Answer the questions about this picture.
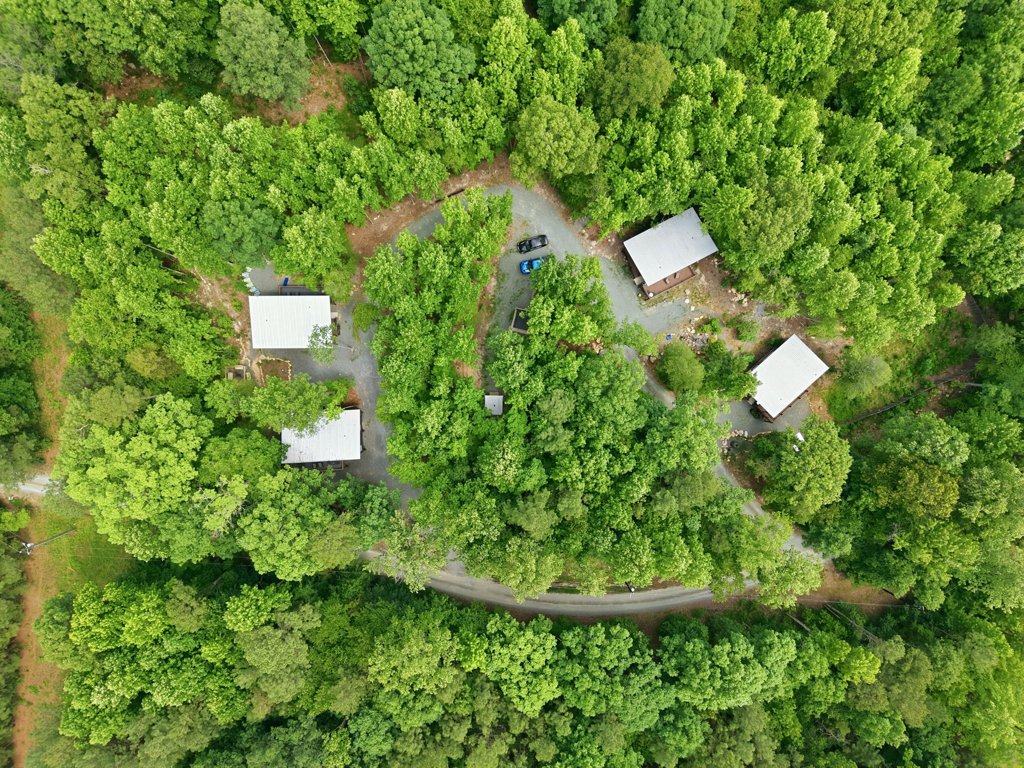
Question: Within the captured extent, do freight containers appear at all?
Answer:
No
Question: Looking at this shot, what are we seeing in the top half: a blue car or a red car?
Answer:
blue car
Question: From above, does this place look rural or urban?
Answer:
rural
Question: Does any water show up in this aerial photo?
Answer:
No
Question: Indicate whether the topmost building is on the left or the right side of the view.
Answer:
right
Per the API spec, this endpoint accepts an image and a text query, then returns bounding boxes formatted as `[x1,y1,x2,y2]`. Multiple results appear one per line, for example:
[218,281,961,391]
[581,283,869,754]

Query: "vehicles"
[516,234,550,255]
[519,255,549,273]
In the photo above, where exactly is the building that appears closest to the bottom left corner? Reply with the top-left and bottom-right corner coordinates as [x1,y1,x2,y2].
[281,410,367,470]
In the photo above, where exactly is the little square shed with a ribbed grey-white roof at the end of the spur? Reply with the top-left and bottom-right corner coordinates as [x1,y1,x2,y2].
[484,392,503,415]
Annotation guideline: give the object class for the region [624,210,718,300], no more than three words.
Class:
building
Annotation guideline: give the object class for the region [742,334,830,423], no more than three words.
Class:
building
